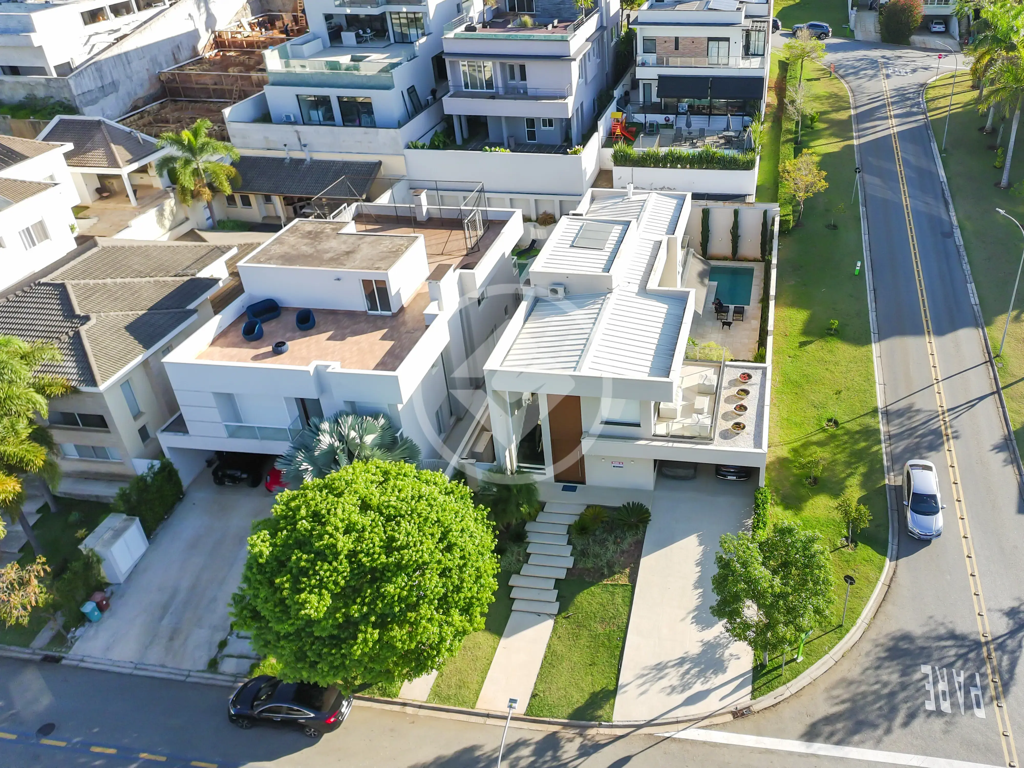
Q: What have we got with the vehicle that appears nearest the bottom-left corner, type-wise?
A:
automobile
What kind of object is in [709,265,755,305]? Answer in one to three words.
swimming pool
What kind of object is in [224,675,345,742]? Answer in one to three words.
car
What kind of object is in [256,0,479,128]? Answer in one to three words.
building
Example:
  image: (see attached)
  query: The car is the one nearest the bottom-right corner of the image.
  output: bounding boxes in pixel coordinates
[899,468,954,539]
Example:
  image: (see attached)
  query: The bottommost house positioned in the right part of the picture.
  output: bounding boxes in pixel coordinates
[476,182,771,509]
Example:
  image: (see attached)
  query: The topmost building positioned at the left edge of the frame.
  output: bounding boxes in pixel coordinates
[0,0,184,80]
